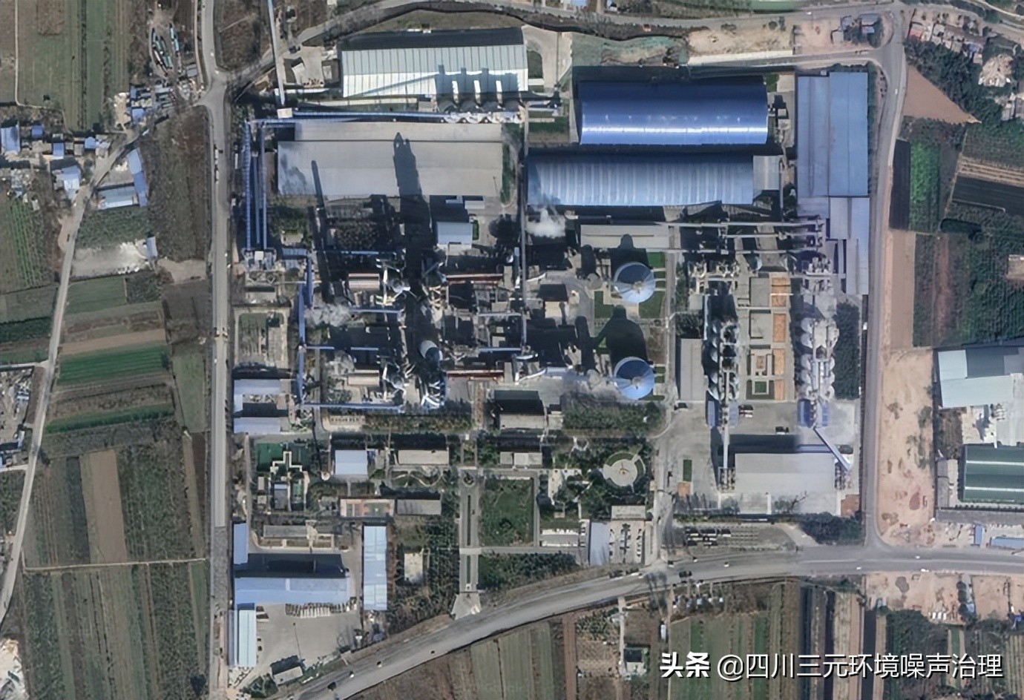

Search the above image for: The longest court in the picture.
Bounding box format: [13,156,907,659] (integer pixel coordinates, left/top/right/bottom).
[362,499,394,516]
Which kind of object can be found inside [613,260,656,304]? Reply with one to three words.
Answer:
silo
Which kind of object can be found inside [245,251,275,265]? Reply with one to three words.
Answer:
house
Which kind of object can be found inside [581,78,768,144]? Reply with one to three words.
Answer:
building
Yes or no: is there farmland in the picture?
Yes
